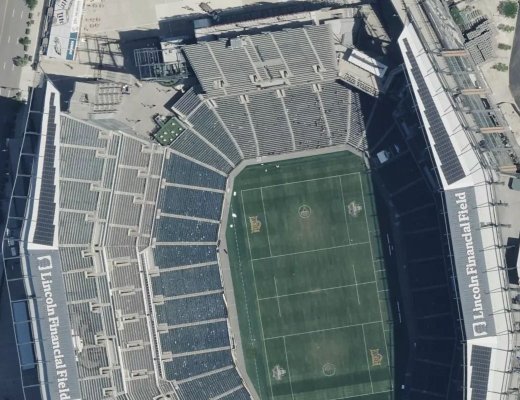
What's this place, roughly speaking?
sports ground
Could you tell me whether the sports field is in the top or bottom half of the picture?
bottom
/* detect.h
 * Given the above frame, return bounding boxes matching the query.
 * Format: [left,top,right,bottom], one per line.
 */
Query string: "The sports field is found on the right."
[219,144,420,400]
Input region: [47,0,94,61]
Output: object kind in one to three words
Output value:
building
